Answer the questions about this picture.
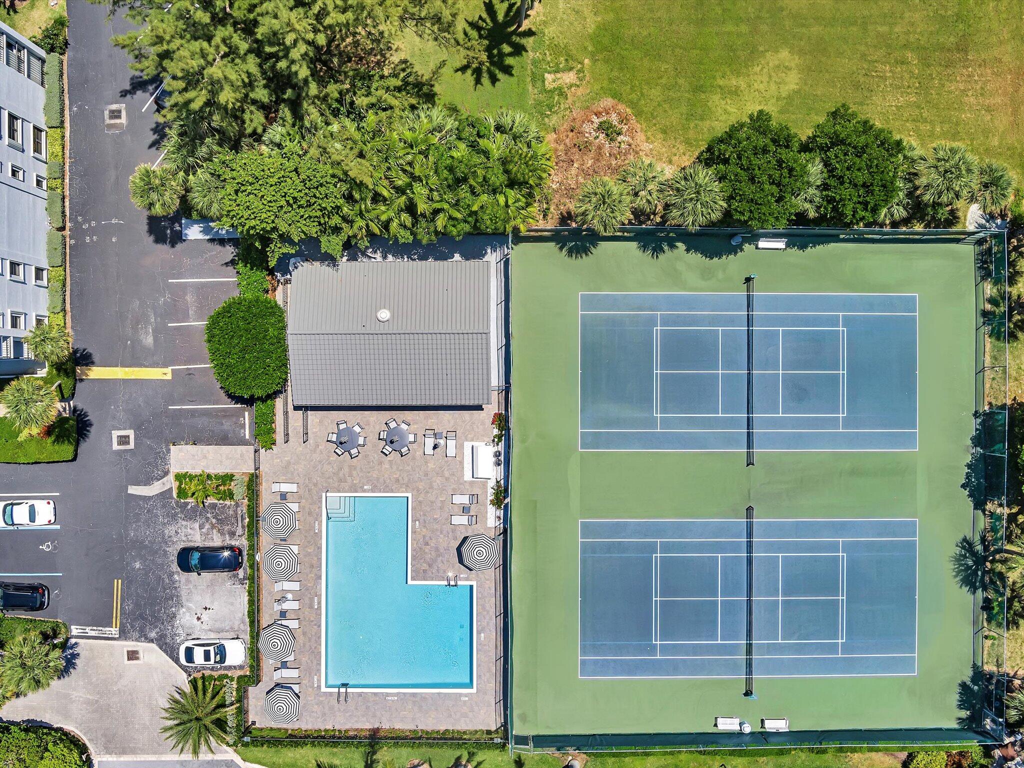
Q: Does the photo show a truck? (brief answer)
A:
No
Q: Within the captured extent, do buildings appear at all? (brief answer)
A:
Yes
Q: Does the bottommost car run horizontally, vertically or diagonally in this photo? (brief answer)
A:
horizontally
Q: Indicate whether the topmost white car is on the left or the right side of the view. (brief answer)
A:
left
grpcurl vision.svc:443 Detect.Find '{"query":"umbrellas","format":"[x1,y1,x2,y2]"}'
[259,501,296,538]
[461,532,499,570]
[265,682,304,721]
[258,623,296,661]
[264,545,301,581]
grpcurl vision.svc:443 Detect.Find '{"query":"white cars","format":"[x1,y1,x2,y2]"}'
[0,498,58,529]
[179,636,249,669]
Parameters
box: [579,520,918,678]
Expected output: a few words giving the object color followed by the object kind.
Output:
blue tennis court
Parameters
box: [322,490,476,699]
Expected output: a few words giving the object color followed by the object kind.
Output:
blue swimming pool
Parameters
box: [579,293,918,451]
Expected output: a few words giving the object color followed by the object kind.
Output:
blue tennis court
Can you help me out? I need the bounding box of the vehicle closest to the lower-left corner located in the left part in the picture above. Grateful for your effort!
[0,581,53,612]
